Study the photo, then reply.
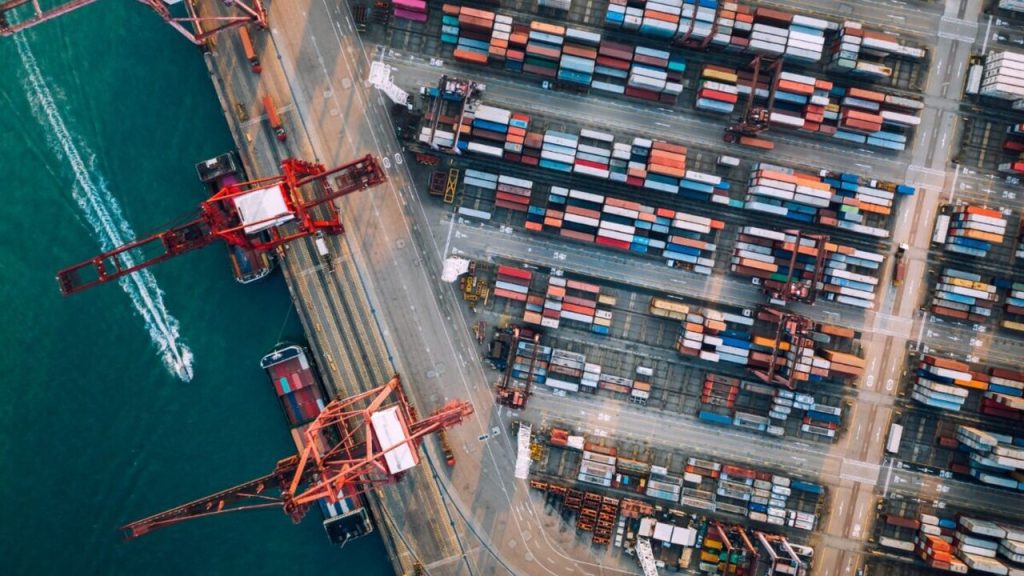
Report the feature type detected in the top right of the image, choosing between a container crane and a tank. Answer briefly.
container crane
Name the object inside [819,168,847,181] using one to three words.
vehicle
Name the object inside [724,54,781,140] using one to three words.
container crane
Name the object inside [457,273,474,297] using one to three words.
work vehicle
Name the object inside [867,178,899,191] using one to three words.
vehicle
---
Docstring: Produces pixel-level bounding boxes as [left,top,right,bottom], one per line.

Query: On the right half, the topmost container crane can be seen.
[674,0,722,54]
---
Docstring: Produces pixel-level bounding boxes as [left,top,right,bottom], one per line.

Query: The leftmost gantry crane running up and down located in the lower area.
[497,324,545,407]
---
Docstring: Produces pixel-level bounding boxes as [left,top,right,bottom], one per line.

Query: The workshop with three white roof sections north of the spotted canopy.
[642,520,700,549]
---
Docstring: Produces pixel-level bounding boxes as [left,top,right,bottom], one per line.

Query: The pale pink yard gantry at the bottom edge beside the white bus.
[757,531,807,576]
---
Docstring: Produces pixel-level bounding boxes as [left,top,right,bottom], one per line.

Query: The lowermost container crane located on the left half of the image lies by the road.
[118,369,476,540]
